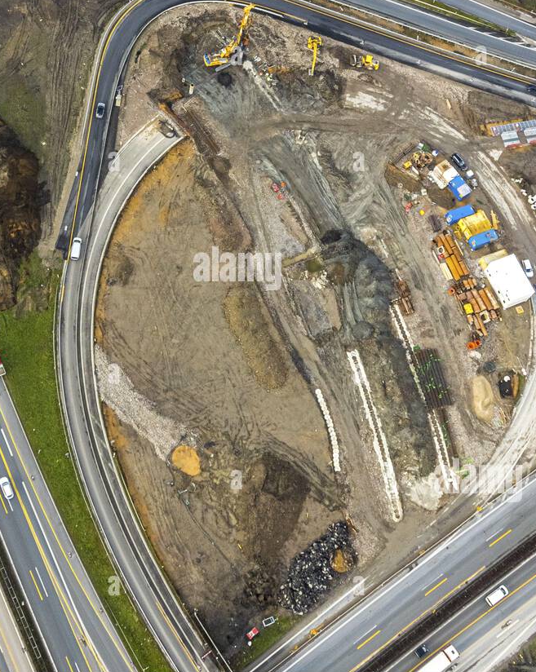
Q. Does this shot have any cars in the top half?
Yes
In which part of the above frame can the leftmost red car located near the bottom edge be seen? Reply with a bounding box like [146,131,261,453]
[244,626,260,641]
